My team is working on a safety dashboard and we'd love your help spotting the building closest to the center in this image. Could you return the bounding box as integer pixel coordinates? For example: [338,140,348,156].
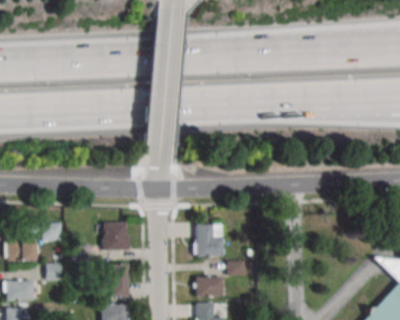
[192,222,224,256]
